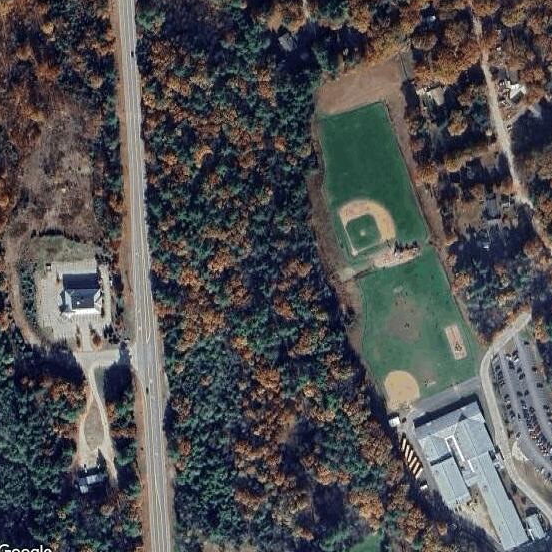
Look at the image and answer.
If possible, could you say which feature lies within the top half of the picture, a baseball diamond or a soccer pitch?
baseball diamond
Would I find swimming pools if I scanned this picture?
No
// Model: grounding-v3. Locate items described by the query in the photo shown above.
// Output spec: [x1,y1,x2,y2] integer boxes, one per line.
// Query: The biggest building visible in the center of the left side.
[64,288,101,316]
